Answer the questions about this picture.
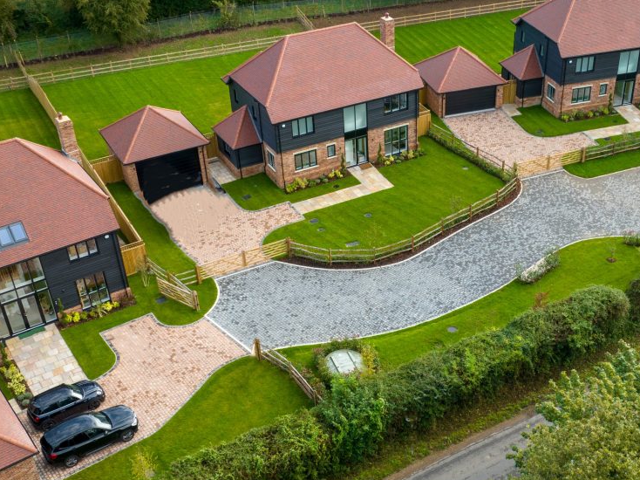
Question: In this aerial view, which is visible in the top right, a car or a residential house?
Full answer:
The feature located in the top right is a residential house.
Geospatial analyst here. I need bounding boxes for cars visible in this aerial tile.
[17,377,106,431]
[37,405,139,470]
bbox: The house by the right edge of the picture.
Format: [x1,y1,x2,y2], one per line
[499,0,640,117]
